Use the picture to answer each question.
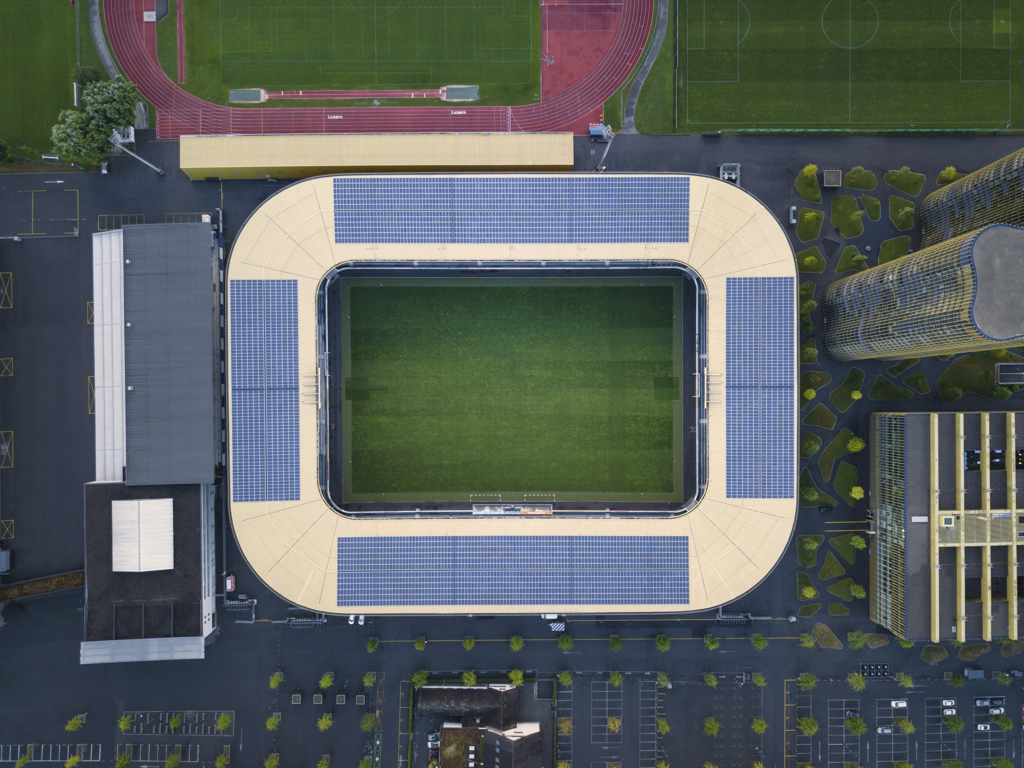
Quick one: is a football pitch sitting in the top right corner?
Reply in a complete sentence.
Yes, in the top right corner there is a football pitch.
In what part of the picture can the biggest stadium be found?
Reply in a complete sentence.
The biggest stadium is located in the center region of the scene.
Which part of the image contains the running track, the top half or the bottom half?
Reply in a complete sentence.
Seen from above, the running track lies in the top half of the view.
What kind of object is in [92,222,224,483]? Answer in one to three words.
building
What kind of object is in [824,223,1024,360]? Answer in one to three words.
building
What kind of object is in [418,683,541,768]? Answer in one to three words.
house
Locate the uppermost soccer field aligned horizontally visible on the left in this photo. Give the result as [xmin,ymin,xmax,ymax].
[156,0,541,108]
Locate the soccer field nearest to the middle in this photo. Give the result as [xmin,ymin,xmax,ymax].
[341,277,683,503]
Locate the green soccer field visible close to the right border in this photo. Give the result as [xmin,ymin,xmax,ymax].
[677,0,1024,132]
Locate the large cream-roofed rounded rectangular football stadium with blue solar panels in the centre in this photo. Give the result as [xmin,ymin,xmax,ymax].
[226,172,799,615]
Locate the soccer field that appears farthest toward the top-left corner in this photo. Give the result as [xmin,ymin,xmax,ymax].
[0,0,77,150]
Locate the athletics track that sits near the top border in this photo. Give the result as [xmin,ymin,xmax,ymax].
[103,0,653,139]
